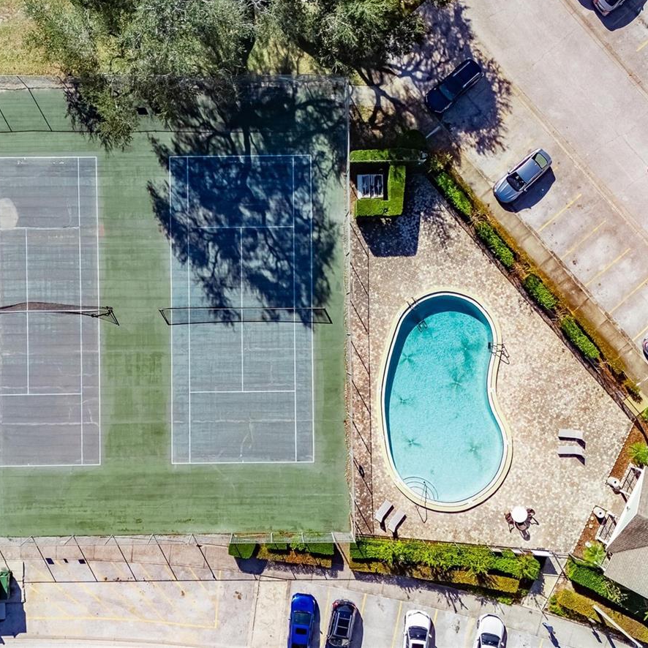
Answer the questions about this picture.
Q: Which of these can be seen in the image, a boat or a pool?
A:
pool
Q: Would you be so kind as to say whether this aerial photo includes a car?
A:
Yes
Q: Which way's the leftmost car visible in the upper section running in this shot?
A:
diagonally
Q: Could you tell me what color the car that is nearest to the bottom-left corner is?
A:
blue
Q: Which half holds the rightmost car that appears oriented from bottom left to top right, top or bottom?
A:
top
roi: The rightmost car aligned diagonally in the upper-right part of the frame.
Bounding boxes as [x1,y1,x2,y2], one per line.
[497,149,554,201]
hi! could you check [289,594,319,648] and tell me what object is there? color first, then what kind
blue car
